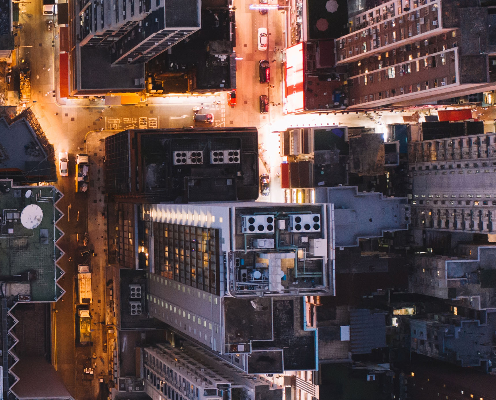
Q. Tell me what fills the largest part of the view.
buildings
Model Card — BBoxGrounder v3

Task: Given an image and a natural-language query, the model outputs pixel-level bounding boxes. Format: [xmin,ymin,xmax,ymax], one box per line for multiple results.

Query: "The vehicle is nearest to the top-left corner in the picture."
[42,0,56,15]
